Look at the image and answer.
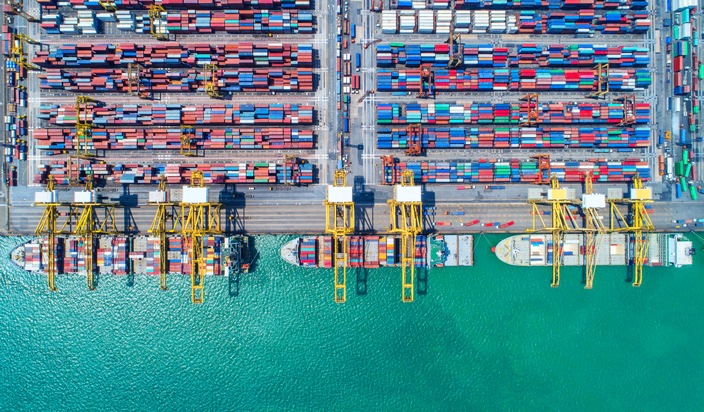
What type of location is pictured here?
port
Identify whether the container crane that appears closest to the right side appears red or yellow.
yellow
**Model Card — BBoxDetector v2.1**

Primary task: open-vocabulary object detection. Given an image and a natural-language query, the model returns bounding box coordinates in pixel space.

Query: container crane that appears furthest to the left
[33,176,90,292]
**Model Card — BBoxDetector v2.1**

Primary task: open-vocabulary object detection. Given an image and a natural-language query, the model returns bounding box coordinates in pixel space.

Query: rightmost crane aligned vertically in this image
[602,179,657,289]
